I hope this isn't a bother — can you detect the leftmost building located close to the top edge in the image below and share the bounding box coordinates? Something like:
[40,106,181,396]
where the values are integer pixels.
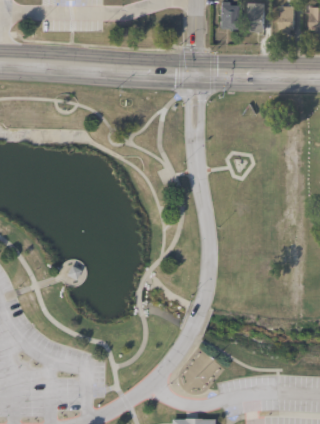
[221,2,240,31]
